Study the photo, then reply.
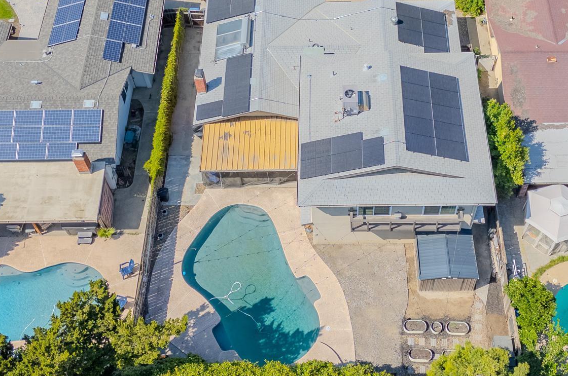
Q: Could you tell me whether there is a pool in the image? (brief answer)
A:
Yes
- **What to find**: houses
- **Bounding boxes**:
[485,0,568,204]
[188,0,498,244]
[0,0,167,242]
